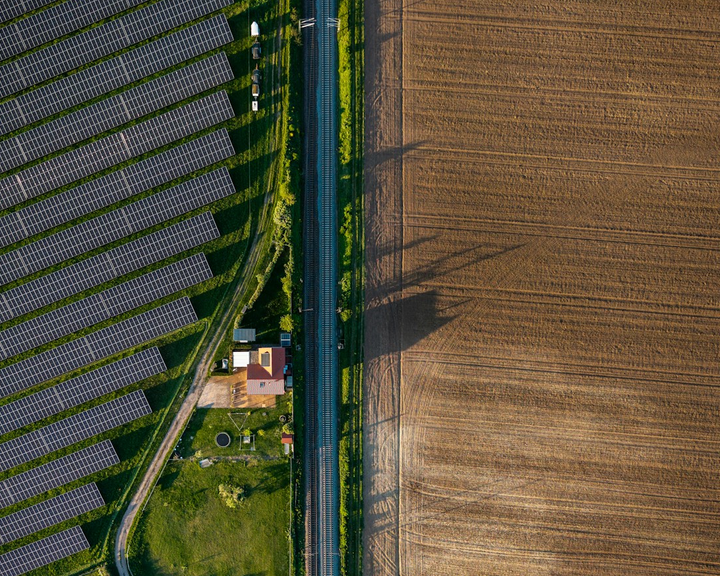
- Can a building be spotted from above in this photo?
Yes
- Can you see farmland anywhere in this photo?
Yes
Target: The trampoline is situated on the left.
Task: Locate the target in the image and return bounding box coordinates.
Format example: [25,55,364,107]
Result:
[215,433,231,449]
